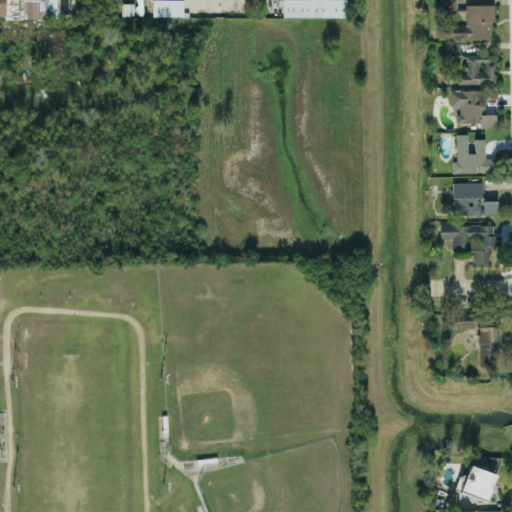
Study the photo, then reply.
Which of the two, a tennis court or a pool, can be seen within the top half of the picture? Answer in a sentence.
It is a pool that can be seen within the top half of the picture.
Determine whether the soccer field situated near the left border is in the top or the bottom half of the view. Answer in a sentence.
The soccer field situated near the left border sits in the bottom half of the picture.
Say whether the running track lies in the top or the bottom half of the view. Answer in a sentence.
You can find the running track in the bottom half.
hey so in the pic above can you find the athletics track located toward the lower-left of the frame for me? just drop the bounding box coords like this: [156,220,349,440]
[2,306,152,512]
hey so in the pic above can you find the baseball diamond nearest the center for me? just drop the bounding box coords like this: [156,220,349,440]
[166,266,352,455]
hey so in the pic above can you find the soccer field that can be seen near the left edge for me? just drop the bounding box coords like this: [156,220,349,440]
[22,341,125,512]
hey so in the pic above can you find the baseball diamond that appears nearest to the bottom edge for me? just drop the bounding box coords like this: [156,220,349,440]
[214,433,340,512]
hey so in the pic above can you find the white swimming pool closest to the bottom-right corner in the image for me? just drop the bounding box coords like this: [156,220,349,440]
[437,462,460,488]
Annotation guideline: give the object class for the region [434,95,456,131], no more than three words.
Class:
swimming pool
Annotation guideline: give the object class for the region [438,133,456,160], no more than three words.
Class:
swimming pool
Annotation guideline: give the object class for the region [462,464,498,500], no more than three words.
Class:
house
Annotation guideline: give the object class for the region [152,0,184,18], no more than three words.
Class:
shed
